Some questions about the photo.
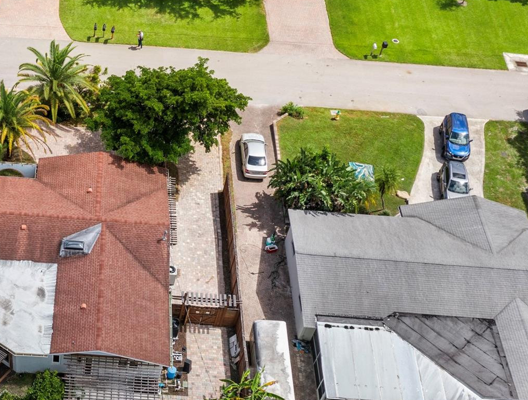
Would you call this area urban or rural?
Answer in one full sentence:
The land in this view is best described as urban.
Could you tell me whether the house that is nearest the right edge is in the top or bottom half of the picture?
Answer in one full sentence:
The house that is nearest the right edge is in the bottom half of the image.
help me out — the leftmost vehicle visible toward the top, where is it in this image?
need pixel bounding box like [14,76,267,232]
[242,133,272,181]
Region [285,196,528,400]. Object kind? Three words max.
house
